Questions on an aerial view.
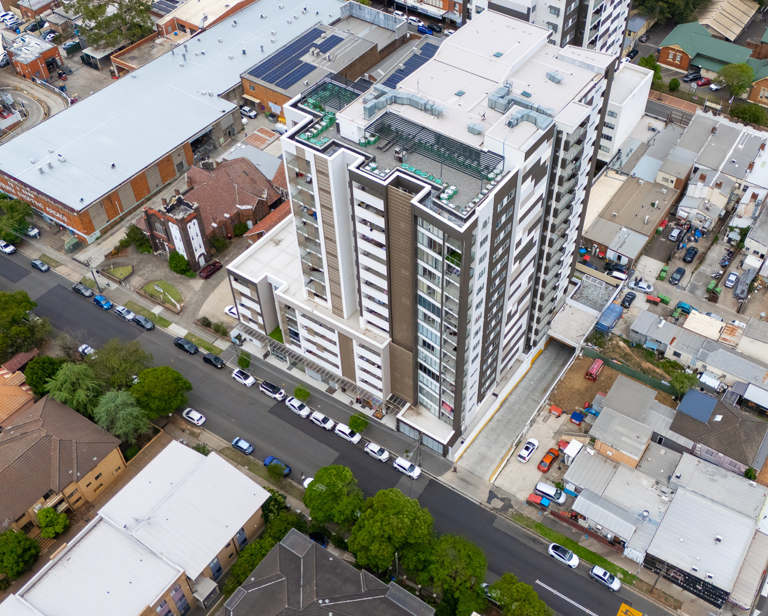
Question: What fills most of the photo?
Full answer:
The bulk of the photo consists of buildings.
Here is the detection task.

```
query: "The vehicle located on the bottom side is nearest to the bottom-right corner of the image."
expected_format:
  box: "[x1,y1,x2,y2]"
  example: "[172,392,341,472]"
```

[585,564,623,594]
